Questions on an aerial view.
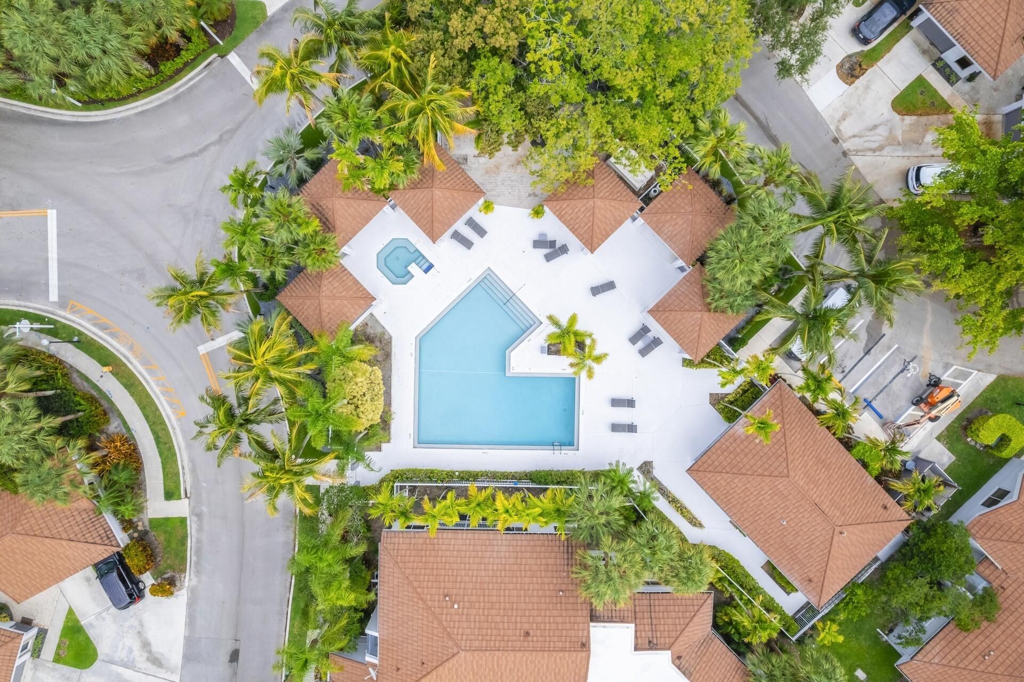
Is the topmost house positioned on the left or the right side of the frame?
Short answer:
right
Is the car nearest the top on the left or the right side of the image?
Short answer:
right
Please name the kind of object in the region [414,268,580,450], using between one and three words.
swimming pool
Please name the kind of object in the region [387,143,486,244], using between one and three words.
building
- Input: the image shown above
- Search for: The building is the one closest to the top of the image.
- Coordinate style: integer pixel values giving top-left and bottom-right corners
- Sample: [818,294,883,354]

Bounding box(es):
[909,0,1024,83]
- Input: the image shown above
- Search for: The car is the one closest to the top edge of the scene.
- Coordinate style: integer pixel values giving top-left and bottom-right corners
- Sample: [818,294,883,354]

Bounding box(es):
[851,0,916,48]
